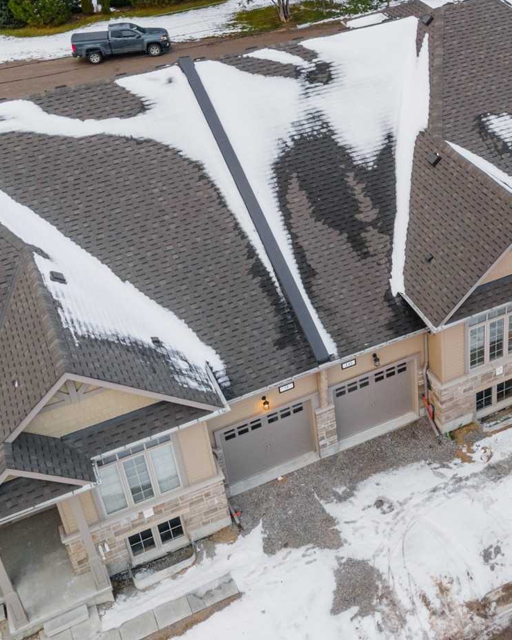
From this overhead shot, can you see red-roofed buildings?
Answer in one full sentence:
No, I can't see a single red-roofed building in this photo.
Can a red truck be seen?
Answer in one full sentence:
No, no red truck is visible in the view.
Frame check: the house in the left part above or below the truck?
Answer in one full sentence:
In the image, the house in the left part appears below the truck.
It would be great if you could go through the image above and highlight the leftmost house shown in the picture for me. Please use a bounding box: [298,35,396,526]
[0,64,340,640]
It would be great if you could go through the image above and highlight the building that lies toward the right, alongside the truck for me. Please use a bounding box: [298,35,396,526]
[173,0,512,452]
